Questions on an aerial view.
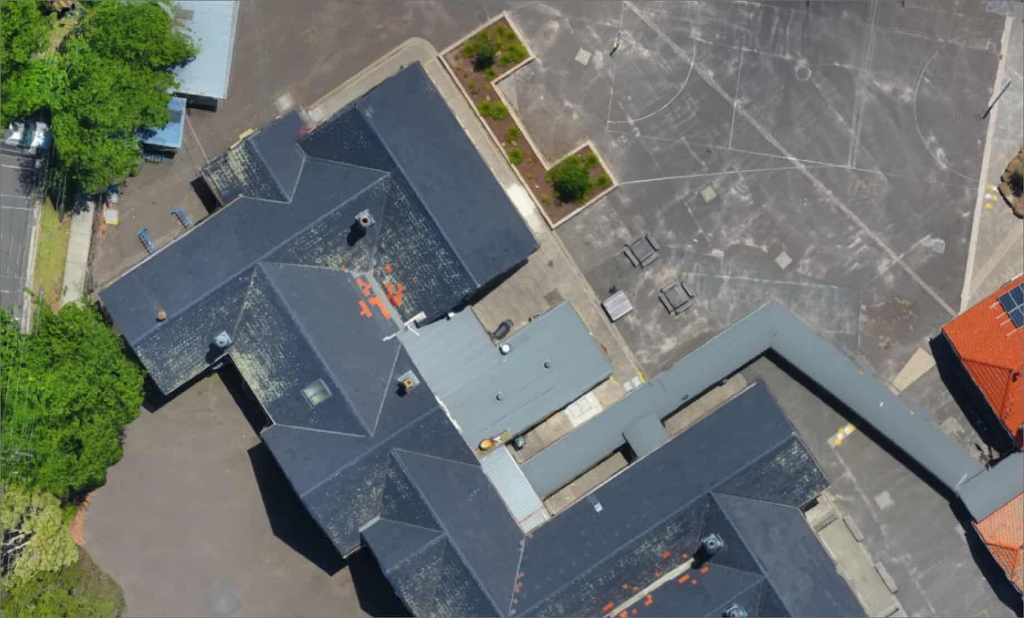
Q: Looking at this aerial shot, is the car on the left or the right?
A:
left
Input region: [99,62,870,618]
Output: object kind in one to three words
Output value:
building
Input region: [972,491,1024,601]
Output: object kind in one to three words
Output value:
house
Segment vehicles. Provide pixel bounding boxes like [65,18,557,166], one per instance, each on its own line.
[0,122,50,152]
